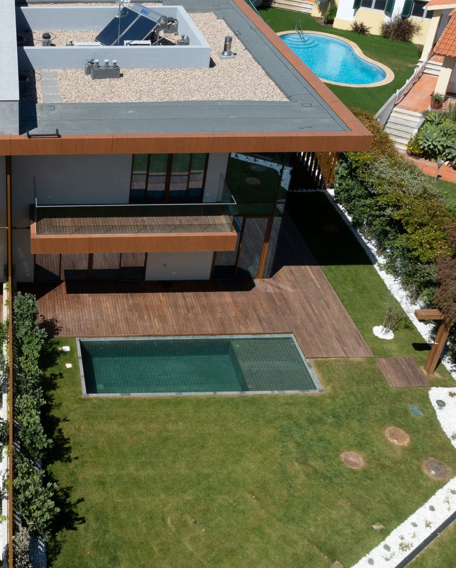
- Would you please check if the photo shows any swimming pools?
Yes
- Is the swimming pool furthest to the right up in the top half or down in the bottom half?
top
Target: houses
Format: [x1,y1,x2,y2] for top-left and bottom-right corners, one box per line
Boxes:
[334,0,456,114]
[0,0,373,284]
